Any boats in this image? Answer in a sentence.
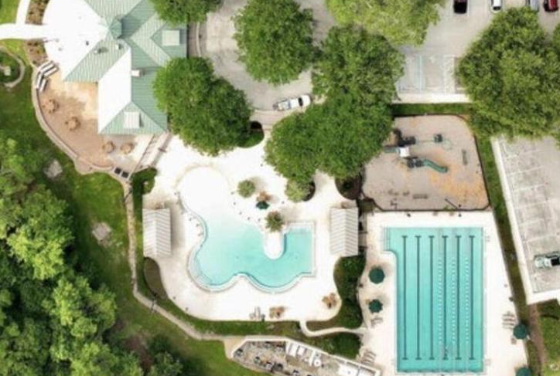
No, no boat is visible in the scene.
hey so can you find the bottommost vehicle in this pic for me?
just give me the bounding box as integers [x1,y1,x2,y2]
[533,252,560,268]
